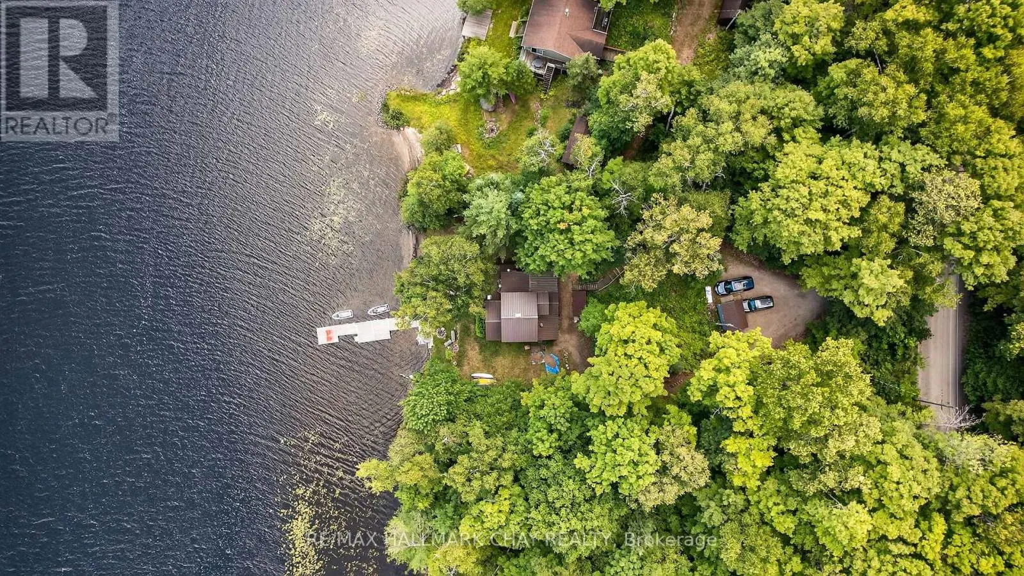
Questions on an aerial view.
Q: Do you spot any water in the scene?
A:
Yes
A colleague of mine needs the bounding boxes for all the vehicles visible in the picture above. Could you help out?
[744,295,775,312]
[713,277,754,295]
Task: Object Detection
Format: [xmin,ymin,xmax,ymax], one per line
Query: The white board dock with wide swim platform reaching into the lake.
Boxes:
[317,317,424,344]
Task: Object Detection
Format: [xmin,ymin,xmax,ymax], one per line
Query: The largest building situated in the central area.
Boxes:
[486,261,559,342]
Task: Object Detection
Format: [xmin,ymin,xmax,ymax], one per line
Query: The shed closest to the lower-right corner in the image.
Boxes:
[714,299,747,329]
